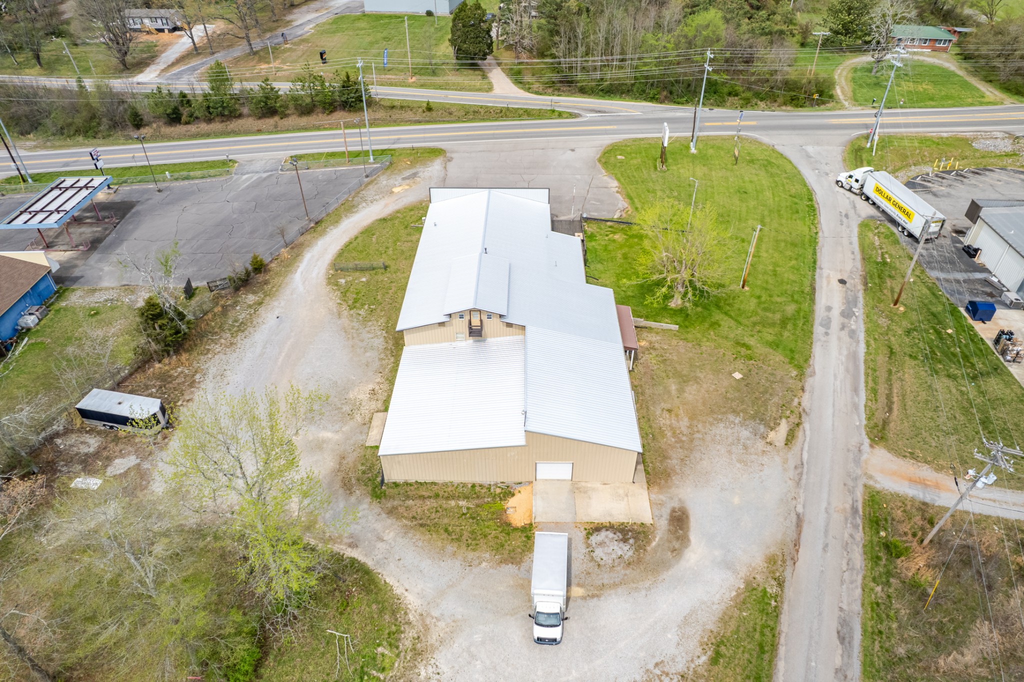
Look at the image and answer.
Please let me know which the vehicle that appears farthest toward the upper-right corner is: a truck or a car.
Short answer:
truck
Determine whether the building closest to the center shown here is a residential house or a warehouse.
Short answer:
warehouse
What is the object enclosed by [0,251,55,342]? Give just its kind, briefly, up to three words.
building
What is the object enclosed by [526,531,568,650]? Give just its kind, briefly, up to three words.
truck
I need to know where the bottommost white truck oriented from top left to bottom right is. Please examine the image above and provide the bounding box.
[837,171,947,246]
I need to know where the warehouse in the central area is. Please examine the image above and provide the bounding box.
[376,186,644,490]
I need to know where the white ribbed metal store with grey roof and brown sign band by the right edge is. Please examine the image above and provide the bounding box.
[957,198,1024,292]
